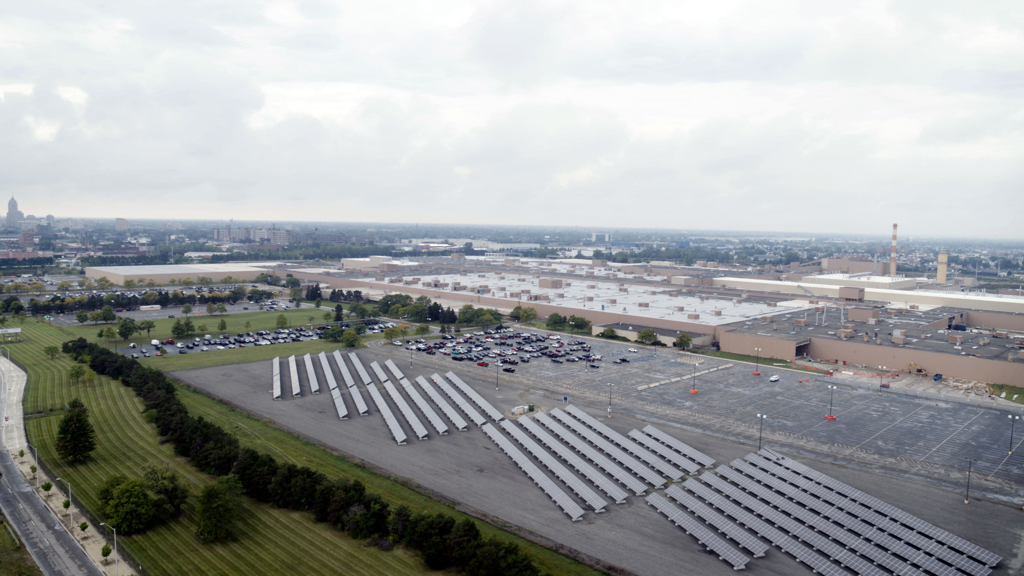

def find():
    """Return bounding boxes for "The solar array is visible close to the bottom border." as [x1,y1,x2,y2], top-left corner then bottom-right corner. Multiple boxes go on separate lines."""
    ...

[168,348,1024,576]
